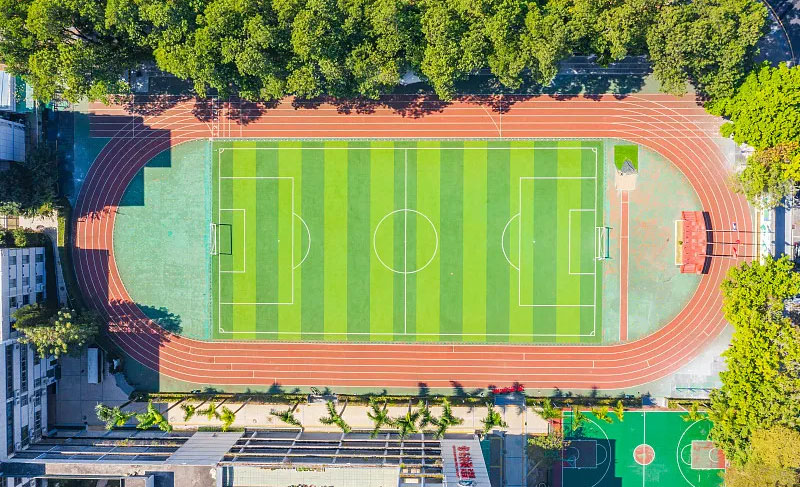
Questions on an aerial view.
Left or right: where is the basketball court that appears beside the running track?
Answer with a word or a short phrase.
right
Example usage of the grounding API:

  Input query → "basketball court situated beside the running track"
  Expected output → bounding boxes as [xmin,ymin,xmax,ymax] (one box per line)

[550,406,733,487]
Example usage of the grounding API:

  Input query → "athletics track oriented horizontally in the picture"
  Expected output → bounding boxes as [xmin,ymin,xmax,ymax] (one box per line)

[73,93,750,389]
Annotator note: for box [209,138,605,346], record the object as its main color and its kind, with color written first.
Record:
green soccer field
